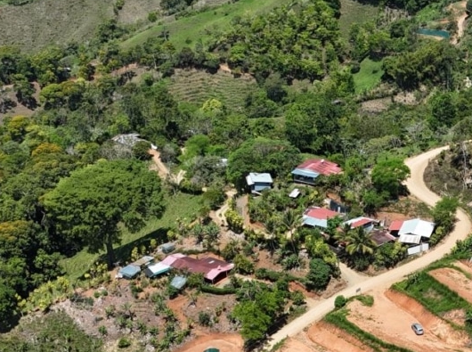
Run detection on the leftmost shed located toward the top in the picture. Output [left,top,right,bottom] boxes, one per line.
[112,133,152,148]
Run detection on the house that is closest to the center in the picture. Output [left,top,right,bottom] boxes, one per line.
[246,173,274,195]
